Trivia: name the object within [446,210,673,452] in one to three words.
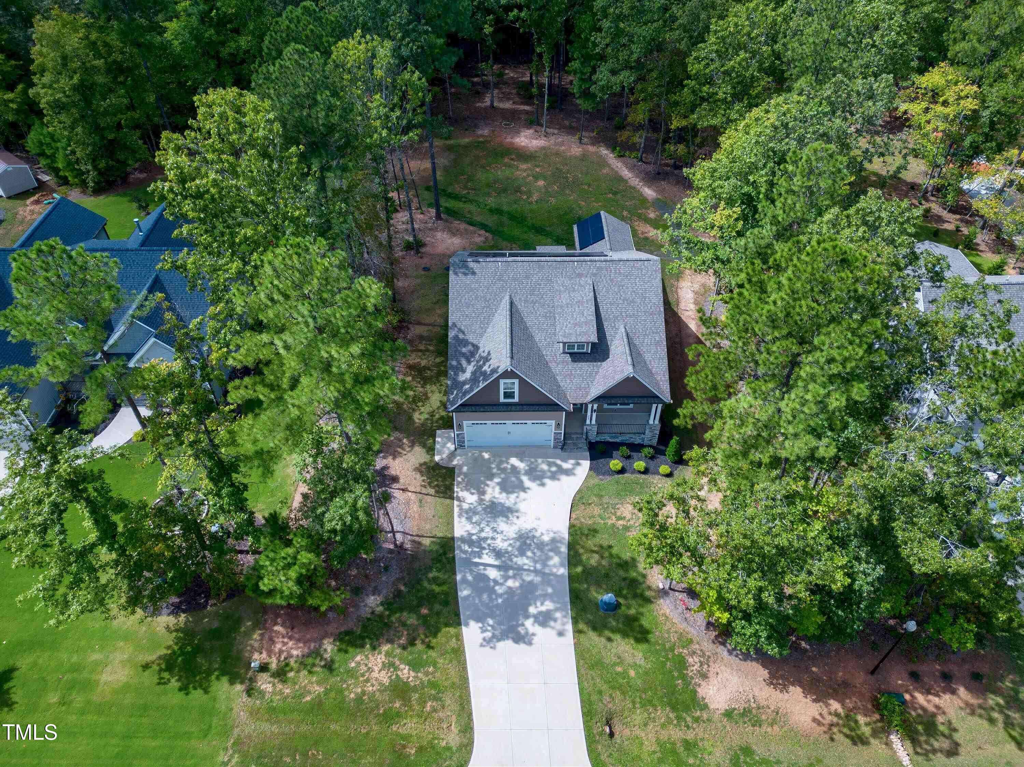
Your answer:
house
